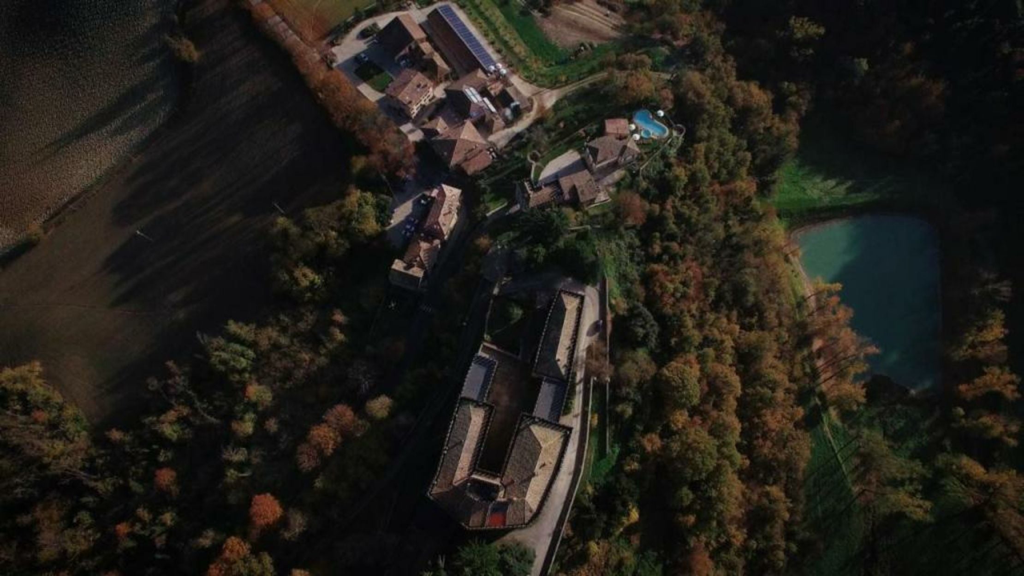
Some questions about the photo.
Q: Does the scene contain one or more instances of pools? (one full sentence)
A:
Yes, this view includes a pool.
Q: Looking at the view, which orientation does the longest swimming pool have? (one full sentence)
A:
The longest swimming pool is laid out diagonally.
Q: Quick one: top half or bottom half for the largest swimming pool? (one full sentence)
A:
The top half of the photo is where the largest swimming pool is.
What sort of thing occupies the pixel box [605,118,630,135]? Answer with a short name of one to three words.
building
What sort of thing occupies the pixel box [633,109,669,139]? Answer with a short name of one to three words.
swimming pool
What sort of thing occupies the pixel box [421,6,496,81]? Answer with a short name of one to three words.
barn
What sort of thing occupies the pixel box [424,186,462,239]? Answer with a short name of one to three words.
house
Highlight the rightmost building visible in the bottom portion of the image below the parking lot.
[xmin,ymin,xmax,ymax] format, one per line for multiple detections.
[428,289,585,530]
